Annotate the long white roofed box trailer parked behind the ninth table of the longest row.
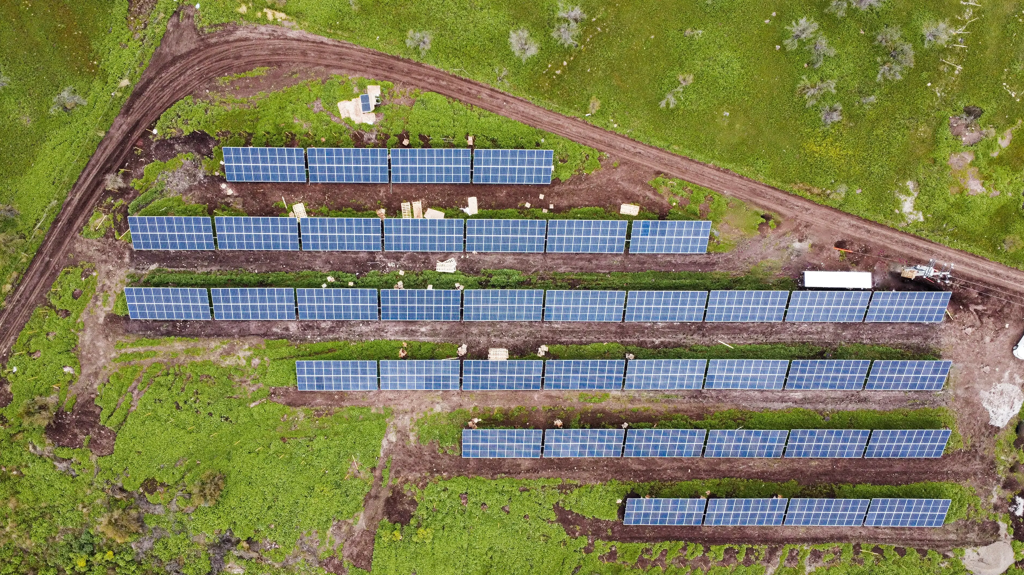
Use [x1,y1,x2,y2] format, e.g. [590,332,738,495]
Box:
[792,271,871,288]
